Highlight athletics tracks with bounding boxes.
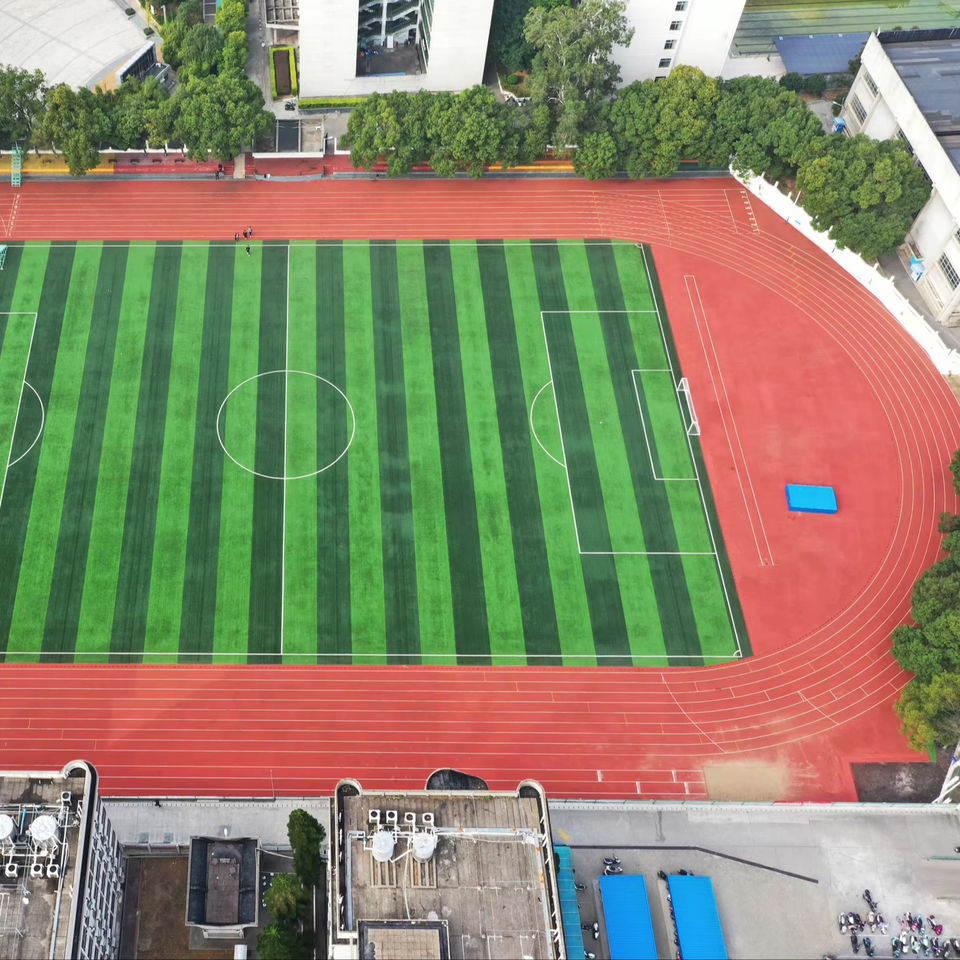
[0,177,960,800]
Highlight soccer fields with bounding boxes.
[0,239,756,668]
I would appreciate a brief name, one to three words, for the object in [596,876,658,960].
shed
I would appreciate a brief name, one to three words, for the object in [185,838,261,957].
building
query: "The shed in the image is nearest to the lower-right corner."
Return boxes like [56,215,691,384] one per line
[664,877,728,960]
